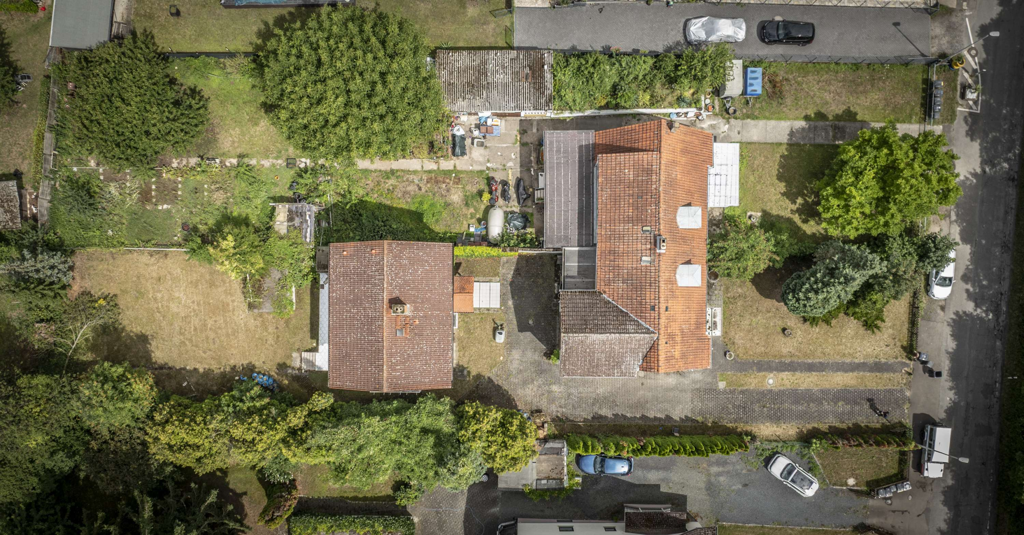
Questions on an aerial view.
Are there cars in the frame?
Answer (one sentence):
Yes, there's a car here.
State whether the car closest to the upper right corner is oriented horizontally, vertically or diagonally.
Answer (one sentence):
In this picture, the car closest to the upper right corner lies horizontally.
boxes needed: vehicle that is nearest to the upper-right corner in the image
[757,17,816,47]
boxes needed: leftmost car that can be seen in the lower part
[493,514,518,535]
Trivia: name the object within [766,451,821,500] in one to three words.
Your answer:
car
